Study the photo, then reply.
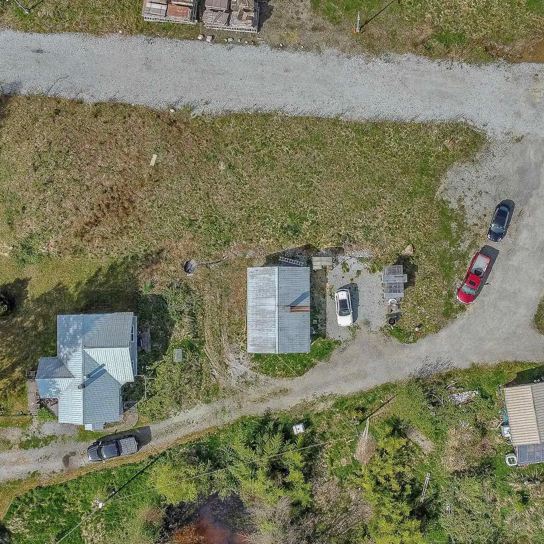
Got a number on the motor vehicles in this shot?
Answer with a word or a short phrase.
4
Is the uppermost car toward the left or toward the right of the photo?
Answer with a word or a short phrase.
right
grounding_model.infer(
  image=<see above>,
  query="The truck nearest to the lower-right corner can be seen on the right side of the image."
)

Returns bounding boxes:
[457,250,491,303]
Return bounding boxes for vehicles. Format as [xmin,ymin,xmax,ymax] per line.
[88,433,140,461]
[334,288,355,327]
[486,202,511,243]
[457,250,491,303]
